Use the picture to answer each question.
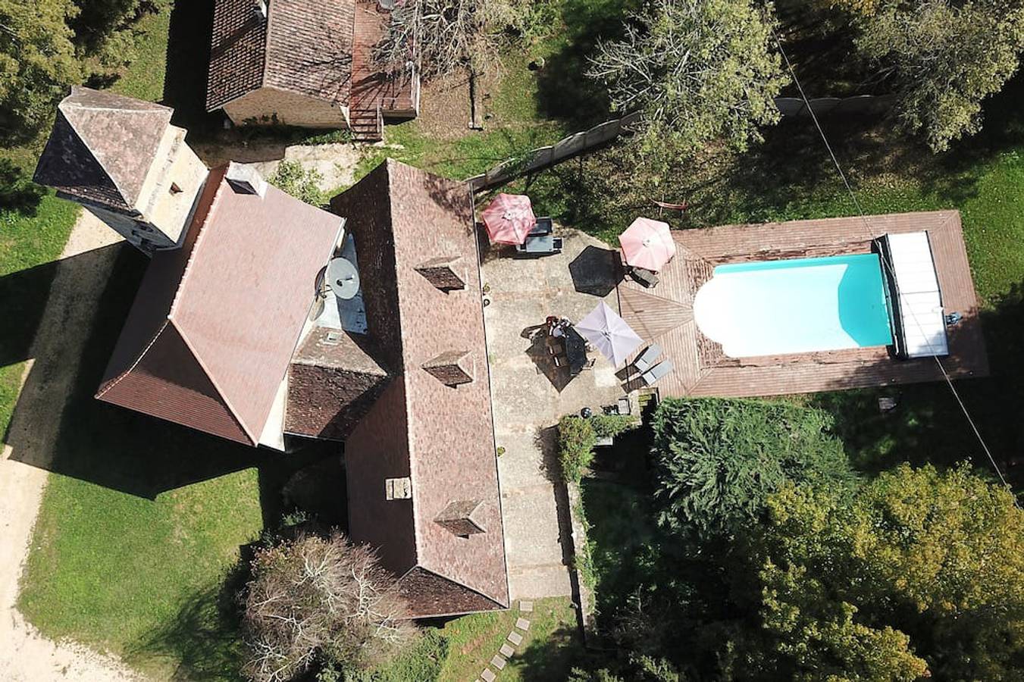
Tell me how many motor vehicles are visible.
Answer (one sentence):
There are no motor vehicles in the image.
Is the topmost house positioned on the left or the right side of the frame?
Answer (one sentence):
You can find the topmost house on the left side of the picture.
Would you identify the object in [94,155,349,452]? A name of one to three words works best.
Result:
house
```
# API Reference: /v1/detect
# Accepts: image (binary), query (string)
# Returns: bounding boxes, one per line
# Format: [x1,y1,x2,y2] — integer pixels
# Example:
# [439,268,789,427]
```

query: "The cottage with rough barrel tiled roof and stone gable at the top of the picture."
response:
[205,0,364,128]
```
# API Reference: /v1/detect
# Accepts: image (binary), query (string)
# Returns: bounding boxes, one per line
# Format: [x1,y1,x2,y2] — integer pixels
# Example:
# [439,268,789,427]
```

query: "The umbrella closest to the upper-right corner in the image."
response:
[618,218,675,271]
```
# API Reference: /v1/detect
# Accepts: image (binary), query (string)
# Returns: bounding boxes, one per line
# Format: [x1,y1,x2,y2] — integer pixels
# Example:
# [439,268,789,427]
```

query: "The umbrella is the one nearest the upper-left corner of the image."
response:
[483,194,536,244]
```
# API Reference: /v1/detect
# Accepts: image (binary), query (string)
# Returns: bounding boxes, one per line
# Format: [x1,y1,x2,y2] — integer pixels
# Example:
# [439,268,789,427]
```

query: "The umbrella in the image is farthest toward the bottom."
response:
[575,301,643,368]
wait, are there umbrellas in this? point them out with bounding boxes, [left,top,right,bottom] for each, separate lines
[483,194,536,244]
[618,218,675,271]
[575,301,643,368]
